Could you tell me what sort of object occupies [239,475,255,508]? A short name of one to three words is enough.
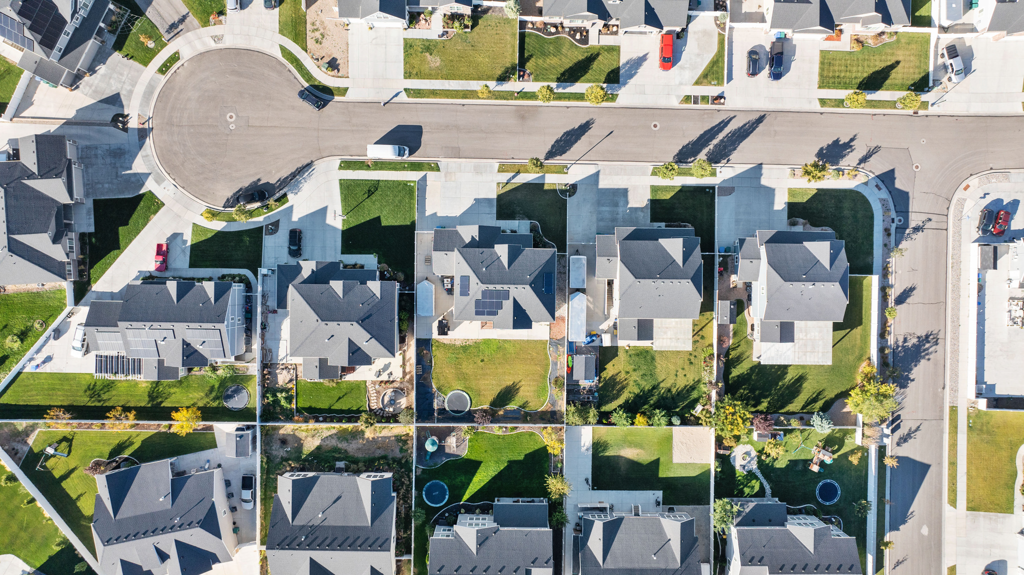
vehicle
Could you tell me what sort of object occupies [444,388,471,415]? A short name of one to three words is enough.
trampoline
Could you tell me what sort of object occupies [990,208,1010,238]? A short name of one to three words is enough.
car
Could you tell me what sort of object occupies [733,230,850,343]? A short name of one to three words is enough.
house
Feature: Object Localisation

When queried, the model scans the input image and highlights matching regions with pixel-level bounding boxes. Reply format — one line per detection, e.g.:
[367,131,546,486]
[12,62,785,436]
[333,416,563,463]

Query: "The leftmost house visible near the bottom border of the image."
[89,459,239,575]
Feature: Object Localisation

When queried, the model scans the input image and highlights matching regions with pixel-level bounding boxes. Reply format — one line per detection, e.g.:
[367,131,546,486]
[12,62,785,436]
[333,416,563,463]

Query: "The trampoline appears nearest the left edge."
[222,383,251,411]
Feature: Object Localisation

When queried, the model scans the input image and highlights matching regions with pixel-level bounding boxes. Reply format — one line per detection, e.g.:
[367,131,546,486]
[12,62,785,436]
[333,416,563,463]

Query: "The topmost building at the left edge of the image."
[0,0,124,89]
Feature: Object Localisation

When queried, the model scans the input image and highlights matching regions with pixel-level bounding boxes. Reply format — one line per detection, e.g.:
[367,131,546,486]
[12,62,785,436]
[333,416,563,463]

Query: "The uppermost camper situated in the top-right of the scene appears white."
[923,0,951,28]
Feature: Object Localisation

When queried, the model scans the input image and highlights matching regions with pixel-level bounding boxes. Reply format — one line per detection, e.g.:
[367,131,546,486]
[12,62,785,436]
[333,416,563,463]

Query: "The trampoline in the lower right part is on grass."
[814,479,841,505]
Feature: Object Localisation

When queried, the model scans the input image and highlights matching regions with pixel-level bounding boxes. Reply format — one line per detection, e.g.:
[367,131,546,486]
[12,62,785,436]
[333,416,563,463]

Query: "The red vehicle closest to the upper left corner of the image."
[152,241,170,273]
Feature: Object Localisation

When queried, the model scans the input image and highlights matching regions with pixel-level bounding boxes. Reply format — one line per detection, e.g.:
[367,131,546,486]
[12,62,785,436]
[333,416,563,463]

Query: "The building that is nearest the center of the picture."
[431,224,557,330]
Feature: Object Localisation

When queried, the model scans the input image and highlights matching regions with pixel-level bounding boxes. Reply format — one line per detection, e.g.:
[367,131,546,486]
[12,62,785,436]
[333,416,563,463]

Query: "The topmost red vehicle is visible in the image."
[658,33,674,71]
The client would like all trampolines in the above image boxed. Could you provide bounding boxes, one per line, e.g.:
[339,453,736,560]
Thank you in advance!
[444,388,471,415]
[222,383,251,411]
[422,479,449,506]
[814,479,841,505]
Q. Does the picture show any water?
No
